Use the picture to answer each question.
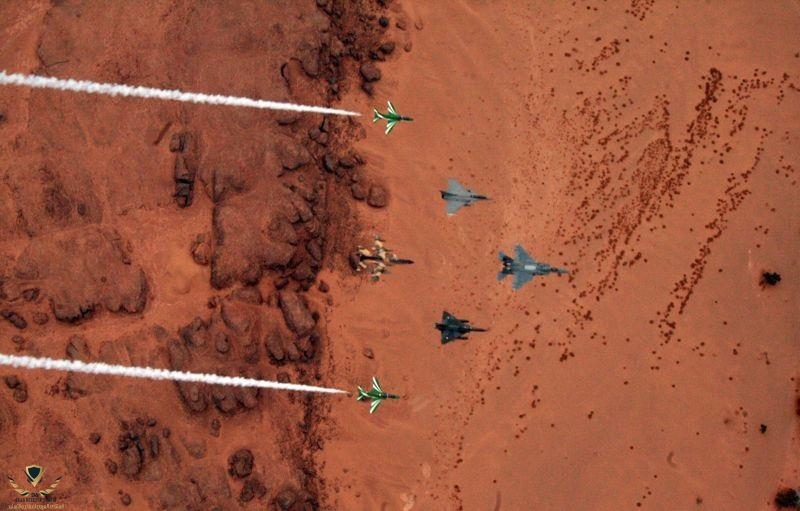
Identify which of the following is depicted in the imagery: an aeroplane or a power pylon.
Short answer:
aeroplane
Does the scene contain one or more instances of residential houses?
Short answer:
No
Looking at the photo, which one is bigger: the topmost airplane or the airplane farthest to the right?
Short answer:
the airplane farthest to the right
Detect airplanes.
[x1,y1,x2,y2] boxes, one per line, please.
[498,244,568,291]
[434,310,488,343]
[357,376,400,413]
[373,99,414,134]
[439,177,492,214]
[357,236,416,281]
